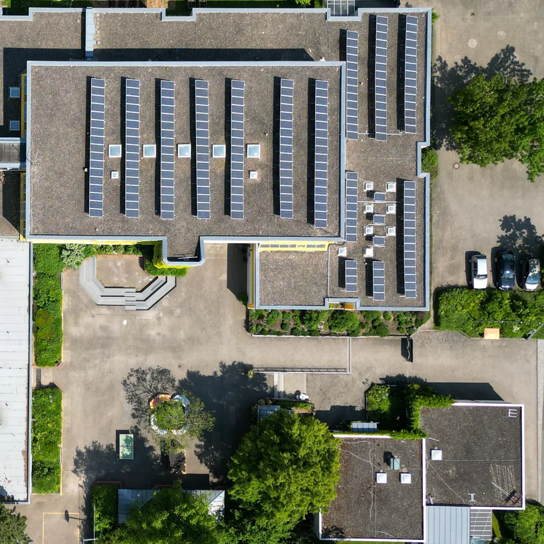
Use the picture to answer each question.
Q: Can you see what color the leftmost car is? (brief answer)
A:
white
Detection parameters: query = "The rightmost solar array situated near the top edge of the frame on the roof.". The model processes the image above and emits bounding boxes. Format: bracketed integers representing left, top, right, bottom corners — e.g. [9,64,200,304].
[400,13,419,133]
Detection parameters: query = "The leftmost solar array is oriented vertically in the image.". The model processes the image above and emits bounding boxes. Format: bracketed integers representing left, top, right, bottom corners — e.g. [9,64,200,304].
[88,76,107,216]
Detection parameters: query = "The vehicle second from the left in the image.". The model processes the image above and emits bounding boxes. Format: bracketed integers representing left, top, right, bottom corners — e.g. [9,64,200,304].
[494,251,518,290]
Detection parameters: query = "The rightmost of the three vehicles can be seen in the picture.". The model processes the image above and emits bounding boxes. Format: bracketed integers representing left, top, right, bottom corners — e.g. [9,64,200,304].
[519,256,543,291]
